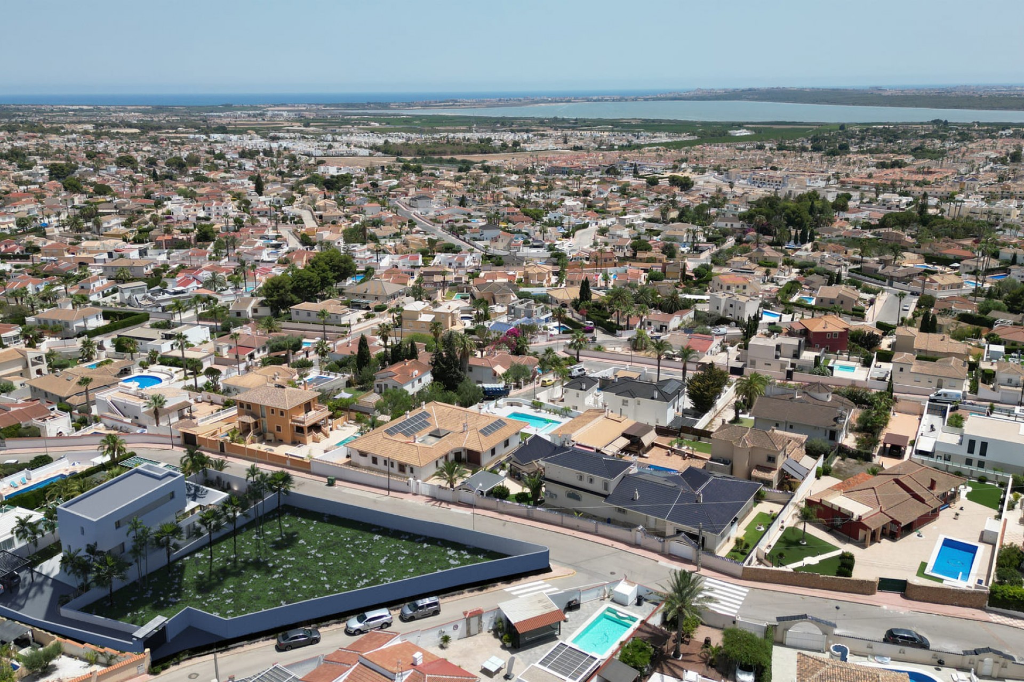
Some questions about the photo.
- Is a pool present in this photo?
Yes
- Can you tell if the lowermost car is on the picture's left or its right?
right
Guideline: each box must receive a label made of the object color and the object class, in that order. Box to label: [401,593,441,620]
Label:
gray car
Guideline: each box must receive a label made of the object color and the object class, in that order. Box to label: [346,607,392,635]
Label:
gray car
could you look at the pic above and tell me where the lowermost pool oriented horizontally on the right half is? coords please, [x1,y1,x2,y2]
[865,662,950,682]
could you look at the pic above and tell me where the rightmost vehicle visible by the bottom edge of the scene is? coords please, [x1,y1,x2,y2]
[884,623,930,648]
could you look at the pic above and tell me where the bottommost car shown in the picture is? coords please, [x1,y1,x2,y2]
[734,656,758,682]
